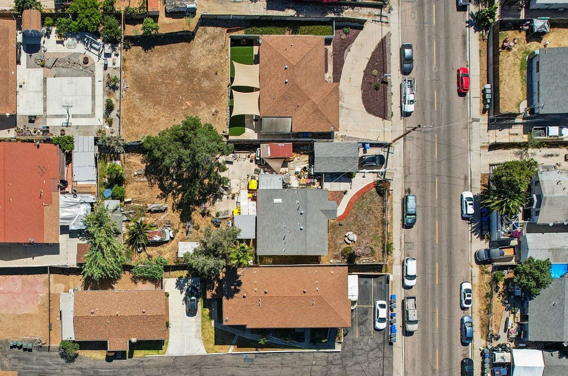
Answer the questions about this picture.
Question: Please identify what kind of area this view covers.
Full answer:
What you see here is a residential area.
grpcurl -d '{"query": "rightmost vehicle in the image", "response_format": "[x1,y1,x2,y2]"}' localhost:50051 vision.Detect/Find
[532,124,568,139]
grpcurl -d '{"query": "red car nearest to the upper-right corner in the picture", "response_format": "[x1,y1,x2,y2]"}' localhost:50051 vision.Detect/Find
[456,68,471,96]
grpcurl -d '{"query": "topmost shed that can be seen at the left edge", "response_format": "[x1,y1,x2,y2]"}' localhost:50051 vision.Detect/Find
[22,10,43,36]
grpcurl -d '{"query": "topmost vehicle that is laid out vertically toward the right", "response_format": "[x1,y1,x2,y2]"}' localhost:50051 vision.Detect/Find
[400,42,414,75]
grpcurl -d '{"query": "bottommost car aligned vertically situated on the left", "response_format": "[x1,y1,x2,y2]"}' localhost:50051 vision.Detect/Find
[185,287,199,315]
